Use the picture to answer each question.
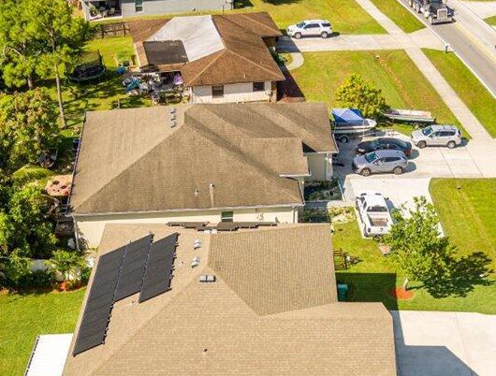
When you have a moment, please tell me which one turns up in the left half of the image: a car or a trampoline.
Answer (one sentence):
There is a trampoline in the left half of the image.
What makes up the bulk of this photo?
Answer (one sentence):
The scene is dominated by buildings.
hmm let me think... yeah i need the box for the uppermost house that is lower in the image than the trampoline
[70,103,342,247]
